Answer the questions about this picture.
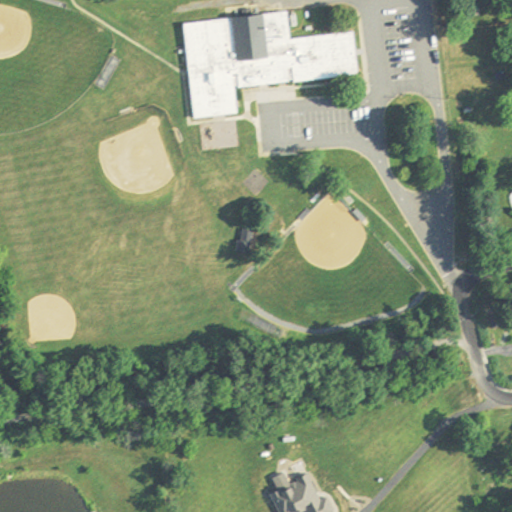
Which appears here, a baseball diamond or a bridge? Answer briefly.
baseball diamond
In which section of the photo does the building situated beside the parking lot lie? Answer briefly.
top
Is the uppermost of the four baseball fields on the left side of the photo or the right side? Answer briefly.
left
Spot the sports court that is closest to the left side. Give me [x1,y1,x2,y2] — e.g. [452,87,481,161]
[200,122,238,150]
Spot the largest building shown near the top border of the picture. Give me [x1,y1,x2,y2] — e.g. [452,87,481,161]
[182,10,360,118]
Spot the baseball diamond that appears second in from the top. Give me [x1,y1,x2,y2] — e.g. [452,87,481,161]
[98,114,175,194]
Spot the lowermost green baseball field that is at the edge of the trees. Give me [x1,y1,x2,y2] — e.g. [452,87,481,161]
[239,194,422,328]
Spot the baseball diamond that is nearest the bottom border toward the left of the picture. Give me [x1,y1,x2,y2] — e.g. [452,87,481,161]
[26,293,76,344]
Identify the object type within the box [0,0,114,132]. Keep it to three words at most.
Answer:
baseball field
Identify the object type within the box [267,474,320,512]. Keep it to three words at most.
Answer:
house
